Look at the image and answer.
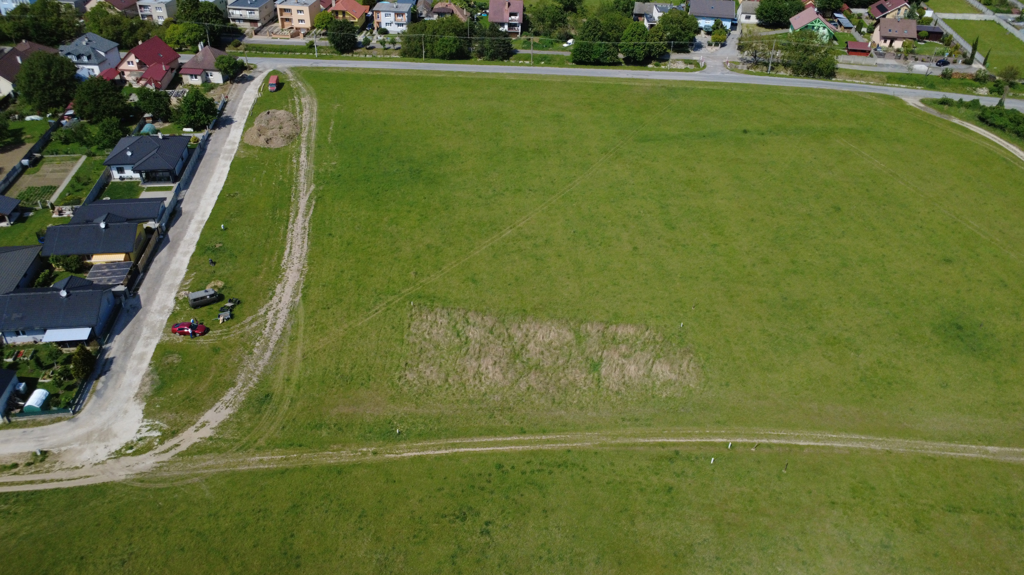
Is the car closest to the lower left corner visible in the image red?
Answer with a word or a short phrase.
Yes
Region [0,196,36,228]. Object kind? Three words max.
gazebo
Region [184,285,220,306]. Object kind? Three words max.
vehicle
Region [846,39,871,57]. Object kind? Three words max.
shed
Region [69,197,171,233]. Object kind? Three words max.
house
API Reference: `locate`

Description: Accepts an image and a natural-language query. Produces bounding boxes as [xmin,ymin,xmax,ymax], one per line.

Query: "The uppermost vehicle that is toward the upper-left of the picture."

[266,74,281,88]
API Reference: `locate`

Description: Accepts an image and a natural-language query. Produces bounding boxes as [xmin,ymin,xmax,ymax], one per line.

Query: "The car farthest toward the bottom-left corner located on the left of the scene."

[167,315,209,337]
